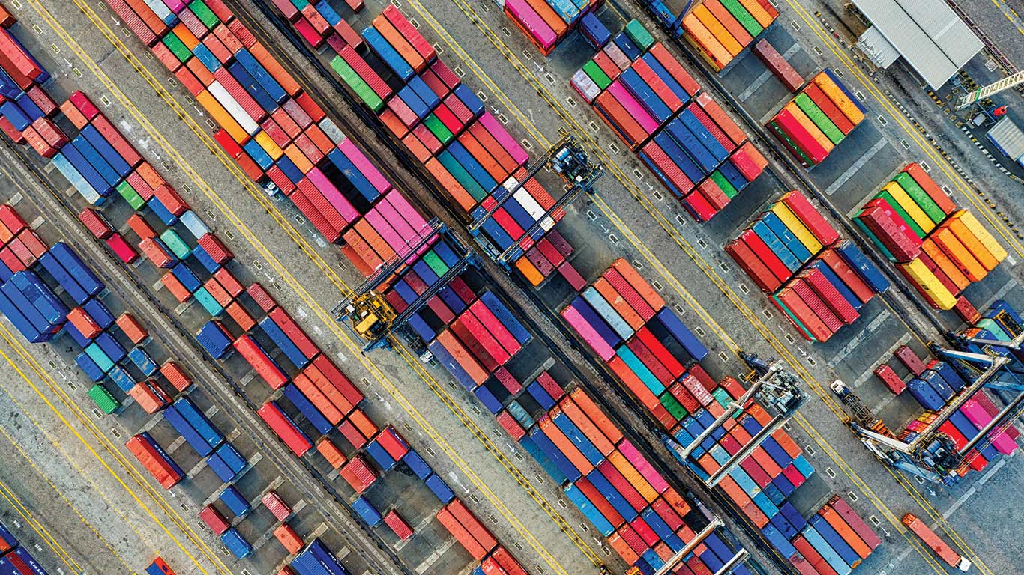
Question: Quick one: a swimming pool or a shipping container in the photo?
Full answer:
Looking from above, you can make out a shipping container.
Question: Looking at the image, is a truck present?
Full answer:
Yes, you can see a truck in this photo.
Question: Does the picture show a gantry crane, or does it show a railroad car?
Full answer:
This aerial view contains a gantry crane.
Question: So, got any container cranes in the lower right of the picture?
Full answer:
Yes, a container crane is visible in the lower right of the picture.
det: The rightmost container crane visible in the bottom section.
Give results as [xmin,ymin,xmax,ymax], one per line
[947,329,1024,378]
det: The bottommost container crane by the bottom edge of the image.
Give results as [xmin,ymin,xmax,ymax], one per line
[651,485,751,575]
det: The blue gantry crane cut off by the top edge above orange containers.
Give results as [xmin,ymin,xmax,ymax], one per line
[642,0,692,38]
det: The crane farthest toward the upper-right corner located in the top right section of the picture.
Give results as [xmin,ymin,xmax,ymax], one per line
[945,70,1024,114]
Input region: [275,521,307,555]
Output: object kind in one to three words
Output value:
shipping container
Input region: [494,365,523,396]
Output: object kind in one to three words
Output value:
shipping container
